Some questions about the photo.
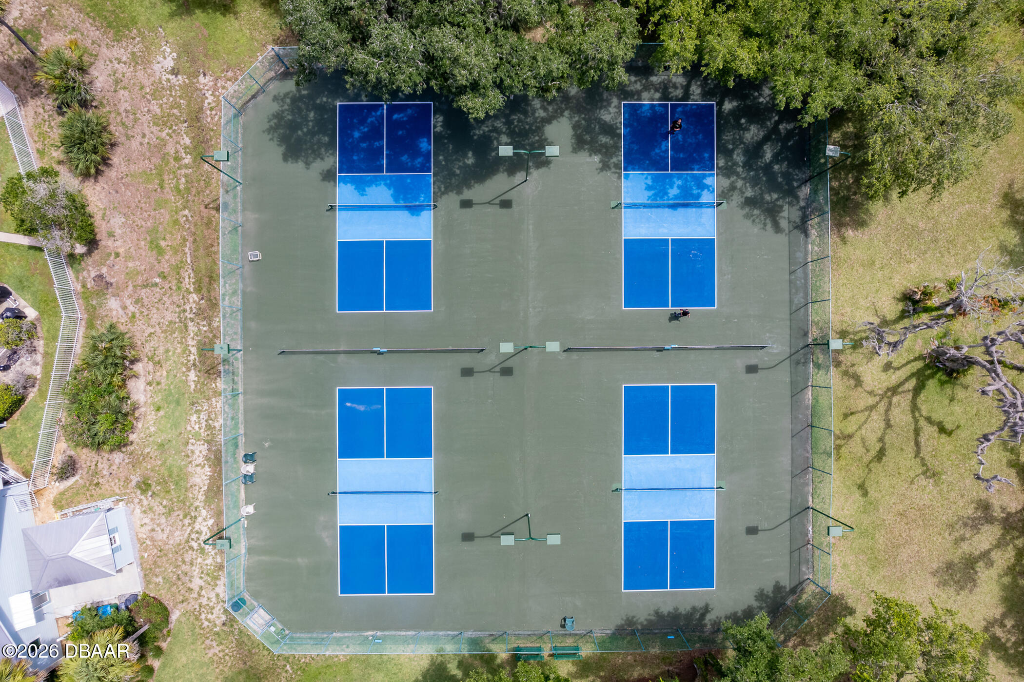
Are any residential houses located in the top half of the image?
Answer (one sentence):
No, no residential house is visible in the top half of the image.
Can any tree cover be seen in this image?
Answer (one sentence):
Yes, tree cover shows up in the scene.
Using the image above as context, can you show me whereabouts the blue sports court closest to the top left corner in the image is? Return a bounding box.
[337,102,433,312]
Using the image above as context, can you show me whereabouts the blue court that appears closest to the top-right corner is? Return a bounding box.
[611,102,727,309]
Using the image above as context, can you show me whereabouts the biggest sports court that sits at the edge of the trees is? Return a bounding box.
[237,71,813,636]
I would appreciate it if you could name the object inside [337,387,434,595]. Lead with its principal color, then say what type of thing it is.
blue sports court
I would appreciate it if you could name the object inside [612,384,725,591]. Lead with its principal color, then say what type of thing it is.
blue sports court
